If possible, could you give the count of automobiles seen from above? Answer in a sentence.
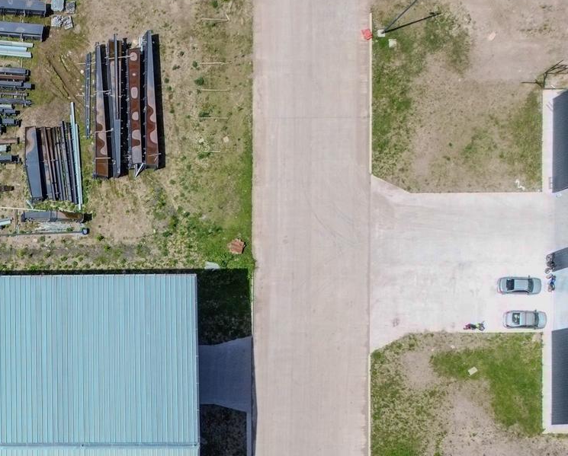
My tally gives 2 automobiles in this view.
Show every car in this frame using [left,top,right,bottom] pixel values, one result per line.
[495,274,541,295]
[500,308,545,330]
